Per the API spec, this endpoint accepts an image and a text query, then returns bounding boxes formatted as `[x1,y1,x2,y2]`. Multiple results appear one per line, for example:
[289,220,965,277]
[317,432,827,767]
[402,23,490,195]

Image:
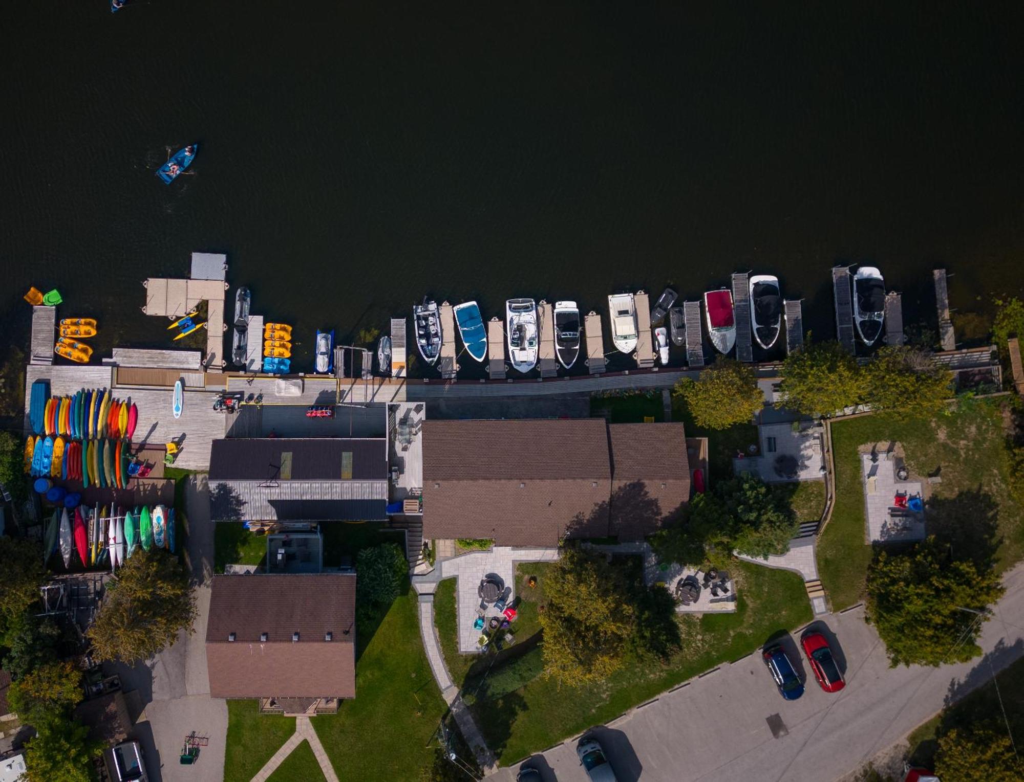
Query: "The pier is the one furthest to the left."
[28,307,58,359]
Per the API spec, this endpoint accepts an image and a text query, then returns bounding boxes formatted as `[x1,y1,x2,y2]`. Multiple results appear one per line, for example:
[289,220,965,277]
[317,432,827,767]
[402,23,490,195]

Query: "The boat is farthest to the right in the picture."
[853,267,884,347]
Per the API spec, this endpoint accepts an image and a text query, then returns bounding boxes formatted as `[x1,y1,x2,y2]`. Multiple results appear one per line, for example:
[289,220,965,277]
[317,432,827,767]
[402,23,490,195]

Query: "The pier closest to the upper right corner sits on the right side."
[931,269,953,324]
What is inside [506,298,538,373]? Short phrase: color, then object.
white boat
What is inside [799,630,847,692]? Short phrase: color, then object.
red car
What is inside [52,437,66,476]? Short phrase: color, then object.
orange boat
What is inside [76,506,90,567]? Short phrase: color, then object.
red boat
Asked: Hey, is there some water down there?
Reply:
Yes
